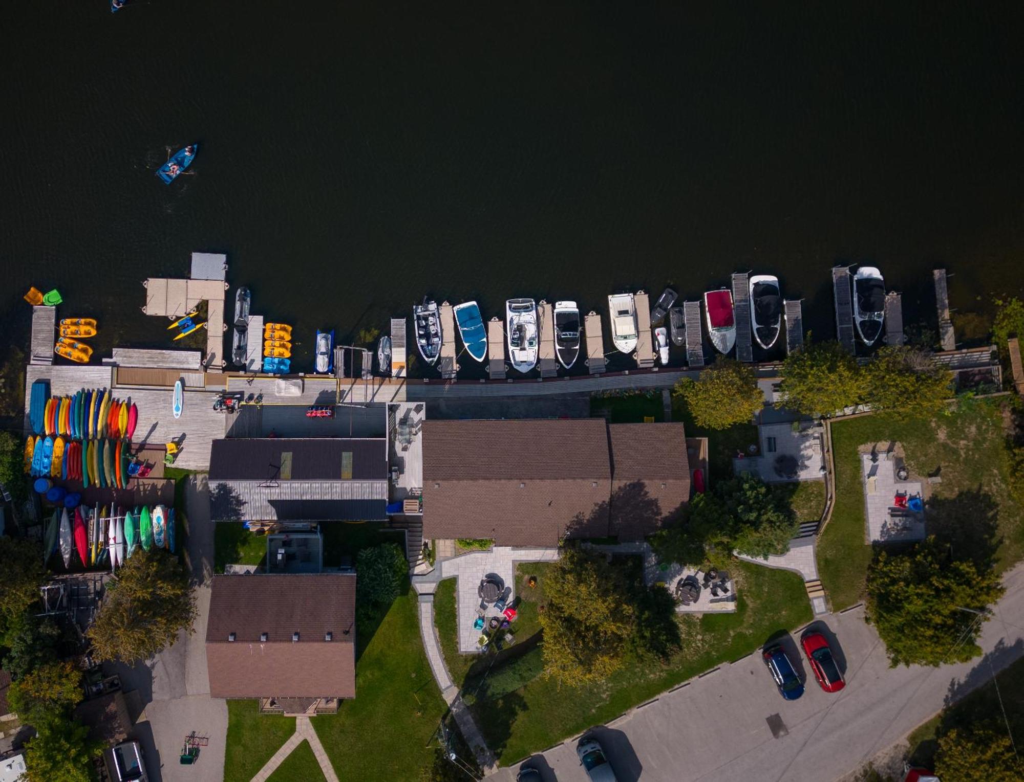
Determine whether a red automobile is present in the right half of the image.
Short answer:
Yes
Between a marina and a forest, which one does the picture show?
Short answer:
marina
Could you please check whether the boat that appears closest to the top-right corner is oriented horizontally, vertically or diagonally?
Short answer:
vertically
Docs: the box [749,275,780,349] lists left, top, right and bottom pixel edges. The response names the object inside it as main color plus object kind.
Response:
black boat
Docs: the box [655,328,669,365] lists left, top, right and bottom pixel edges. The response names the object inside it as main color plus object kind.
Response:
white boat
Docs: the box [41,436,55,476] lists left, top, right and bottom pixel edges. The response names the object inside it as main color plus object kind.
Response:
blue boat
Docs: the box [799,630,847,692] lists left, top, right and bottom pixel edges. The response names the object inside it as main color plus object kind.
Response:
red car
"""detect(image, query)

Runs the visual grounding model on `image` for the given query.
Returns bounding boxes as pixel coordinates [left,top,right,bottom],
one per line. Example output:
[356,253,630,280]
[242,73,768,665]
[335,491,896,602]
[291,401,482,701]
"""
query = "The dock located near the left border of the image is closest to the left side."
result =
[28,307,58,359]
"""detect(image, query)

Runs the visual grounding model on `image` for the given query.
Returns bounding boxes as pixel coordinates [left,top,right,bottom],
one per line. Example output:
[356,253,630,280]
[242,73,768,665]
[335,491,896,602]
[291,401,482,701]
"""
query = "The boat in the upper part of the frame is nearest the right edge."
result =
[853,267,884,347]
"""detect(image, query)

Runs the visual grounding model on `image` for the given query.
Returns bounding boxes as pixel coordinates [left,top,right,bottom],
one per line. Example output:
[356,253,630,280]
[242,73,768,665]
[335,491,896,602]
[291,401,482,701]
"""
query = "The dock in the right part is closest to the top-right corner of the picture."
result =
[931,269,953,324]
